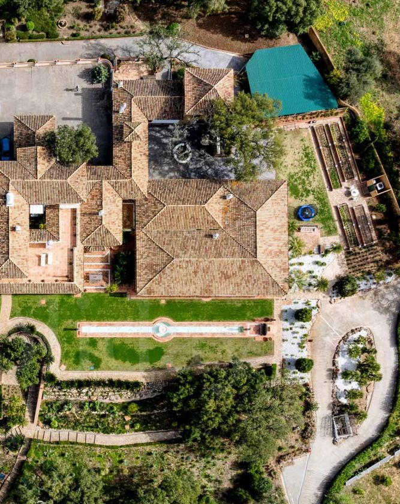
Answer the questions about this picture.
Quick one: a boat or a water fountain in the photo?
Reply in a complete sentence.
Of the two, only a water fountain appears.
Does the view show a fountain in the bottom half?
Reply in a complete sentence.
Yes, there is a fountain in the bottom half.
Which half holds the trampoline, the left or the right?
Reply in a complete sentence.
The trampoline appears in the right half of the scene.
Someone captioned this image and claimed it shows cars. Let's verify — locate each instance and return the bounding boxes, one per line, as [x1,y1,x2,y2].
[0,135,13,161]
